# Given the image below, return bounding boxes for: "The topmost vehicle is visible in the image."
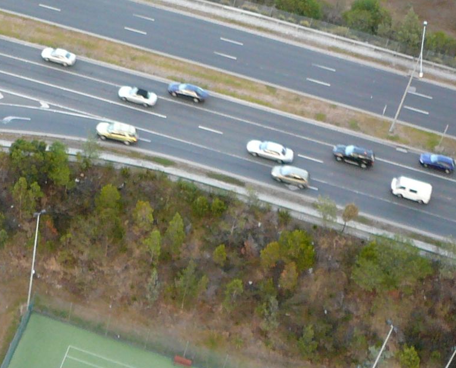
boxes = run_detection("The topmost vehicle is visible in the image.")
[39,47,78,67]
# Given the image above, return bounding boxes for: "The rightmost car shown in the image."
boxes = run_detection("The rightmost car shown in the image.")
[417,153,456,175]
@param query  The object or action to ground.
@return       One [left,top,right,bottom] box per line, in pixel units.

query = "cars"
[96,122,137,143]
[417,153,456,175]
[331,145,376,168]
[39,47,78,67]
[269,166,312,190]
[118,87,157,107]
[246,141,292,164]
[168,84,206,104]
